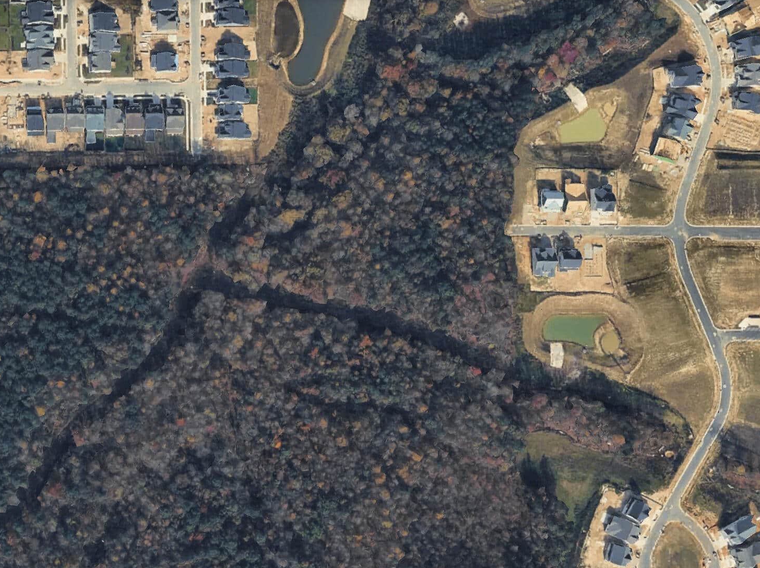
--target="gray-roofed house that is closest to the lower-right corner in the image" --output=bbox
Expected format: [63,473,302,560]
[726,541,760,568]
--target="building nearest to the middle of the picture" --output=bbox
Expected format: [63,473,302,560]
[531,247,558,277]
